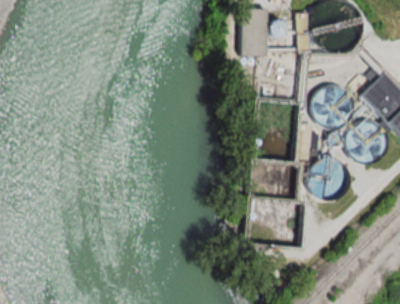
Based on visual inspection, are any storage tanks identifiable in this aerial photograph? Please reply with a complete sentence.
Yes, looking at the shot, I can spot a storage tank.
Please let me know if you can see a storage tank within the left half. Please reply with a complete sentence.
No, within the left half there is no storage tank.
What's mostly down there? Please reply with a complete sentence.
What you mostly see from above here is water.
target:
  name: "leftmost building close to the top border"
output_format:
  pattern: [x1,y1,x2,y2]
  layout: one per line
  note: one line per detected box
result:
[243,9,268,56]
